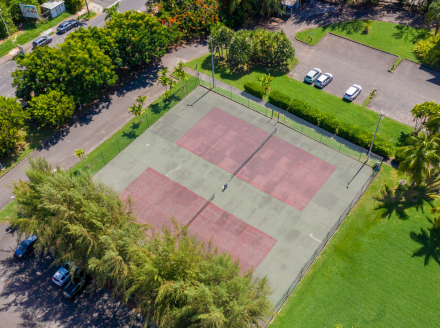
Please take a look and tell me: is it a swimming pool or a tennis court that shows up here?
tennis court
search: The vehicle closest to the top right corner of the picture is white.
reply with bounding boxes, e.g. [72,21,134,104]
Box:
[342,84,361,100]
